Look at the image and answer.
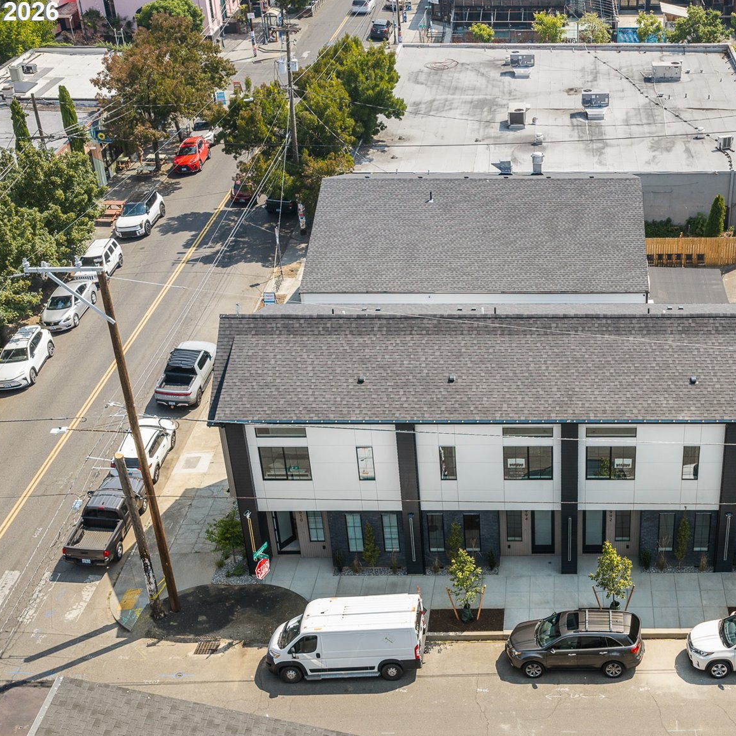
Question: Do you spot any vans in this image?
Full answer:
Yes, there's a van here.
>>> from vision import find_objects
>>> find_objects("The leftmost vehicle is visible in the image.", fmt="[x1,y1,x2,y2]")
[0,329,58,389]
